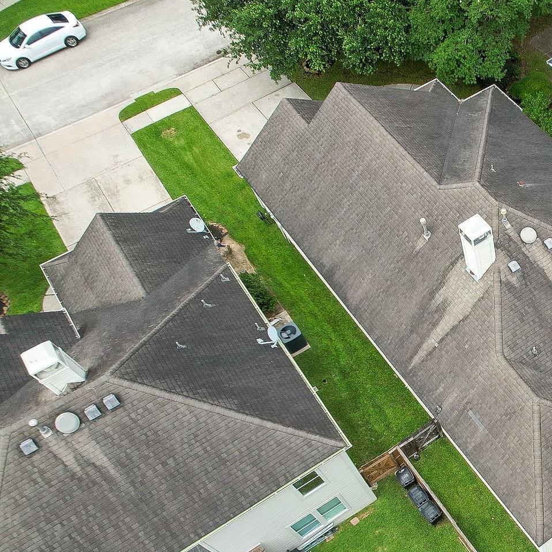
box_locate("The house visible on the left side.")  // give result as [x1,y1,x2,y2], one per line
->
[0,194,377,552]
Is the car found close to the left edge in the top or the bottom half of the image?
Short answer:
top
